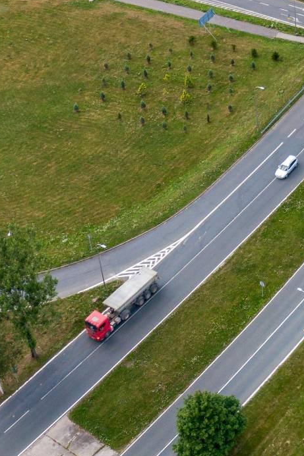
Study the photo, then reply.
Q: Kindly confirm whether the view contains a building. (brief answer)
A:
No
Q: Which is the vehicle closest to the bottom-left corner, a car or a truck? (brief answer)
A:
truck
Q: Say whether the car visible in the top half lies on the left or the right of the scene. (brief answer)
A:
right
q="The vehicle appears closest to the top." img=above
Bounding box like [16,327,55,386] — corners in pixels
[274,157,300,179]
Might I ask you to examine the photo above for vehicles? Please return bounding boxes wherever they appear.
[274,157,300,179]
[85,270,157,340]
